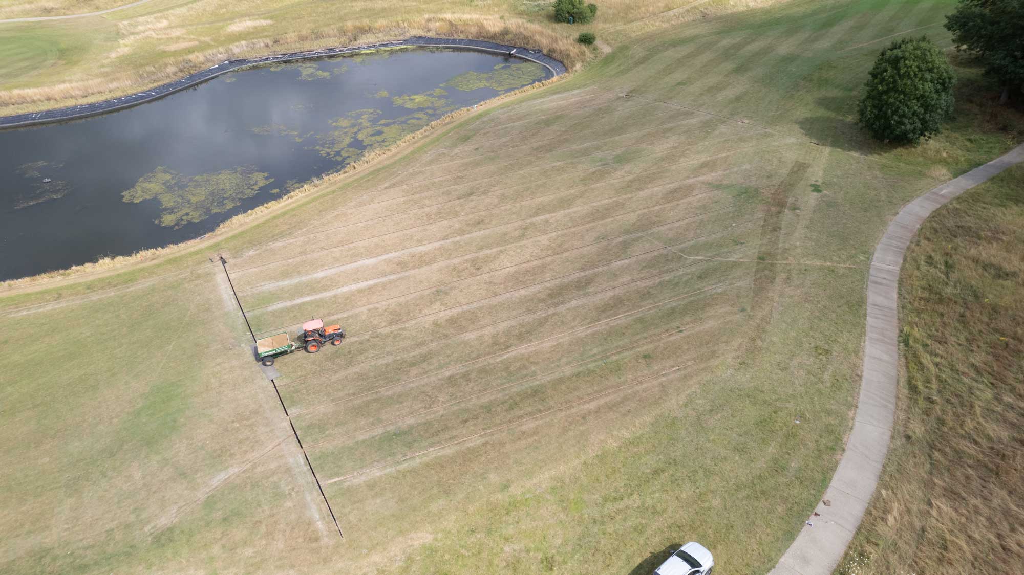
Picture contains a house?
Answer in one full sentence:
No, there's no house here.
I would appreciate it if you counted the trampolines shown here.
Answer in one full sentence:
Not a single trampoline can be seen.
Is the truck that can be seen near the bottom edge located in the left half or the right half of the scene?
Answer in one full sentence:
The truck that can be seen near the bottom edge sits on the right side.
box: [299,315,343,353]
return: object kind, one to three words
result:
work vehicle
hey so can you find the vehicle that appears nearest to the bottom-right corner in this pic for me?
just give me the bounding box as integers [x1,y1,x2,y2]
[651,539,712,575]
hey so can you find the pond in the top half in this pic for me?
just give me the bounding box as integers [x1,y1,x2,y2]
[0,48,557,282]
